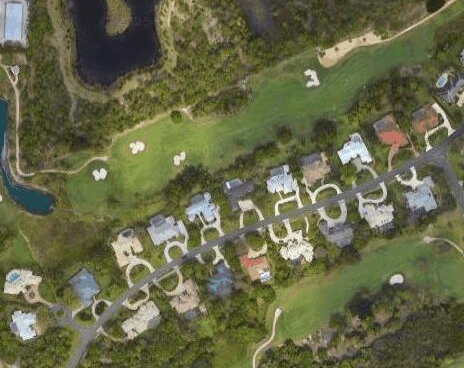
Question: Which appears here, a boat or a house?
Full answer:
There is a house in the scene.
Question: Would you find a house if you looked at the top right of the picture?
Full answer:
Yes, the scene does show a house at the top right of the picture.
